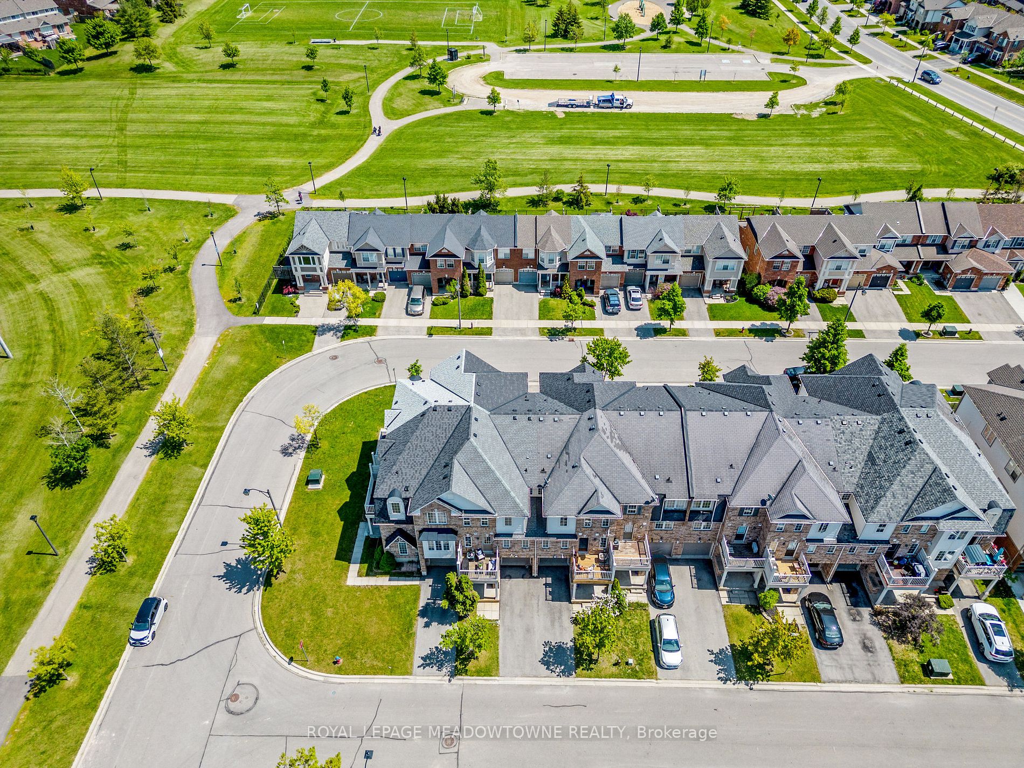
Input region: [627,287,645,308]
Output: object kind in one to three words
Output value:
car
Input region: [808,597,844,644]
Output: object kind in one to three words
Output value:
car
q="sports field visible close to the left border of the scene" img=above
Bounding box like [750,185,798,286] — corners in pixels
[0,75,377,195]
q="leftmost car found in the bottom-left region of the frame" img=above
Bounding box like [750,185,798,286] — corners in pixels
[131,594,171,642]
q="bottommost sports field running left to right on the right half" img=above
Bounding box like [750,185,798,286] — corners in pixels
[316,79,1024,199]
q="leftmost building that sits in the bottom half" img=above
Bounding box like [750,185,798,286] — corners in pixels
[367,349,472,579]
